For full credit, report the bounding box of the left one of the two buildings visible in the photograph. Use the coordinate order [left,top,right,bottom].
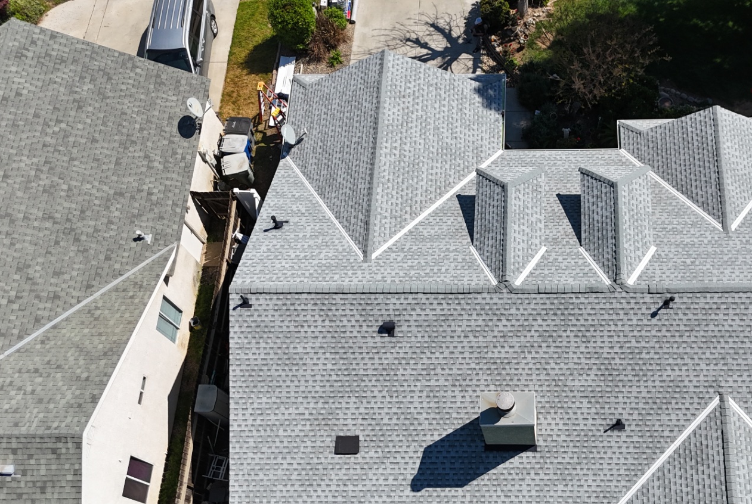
[0,18,222,504]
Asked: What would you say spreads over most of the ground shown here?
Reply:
buildings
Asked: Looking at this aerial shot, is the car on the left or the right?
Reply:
left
